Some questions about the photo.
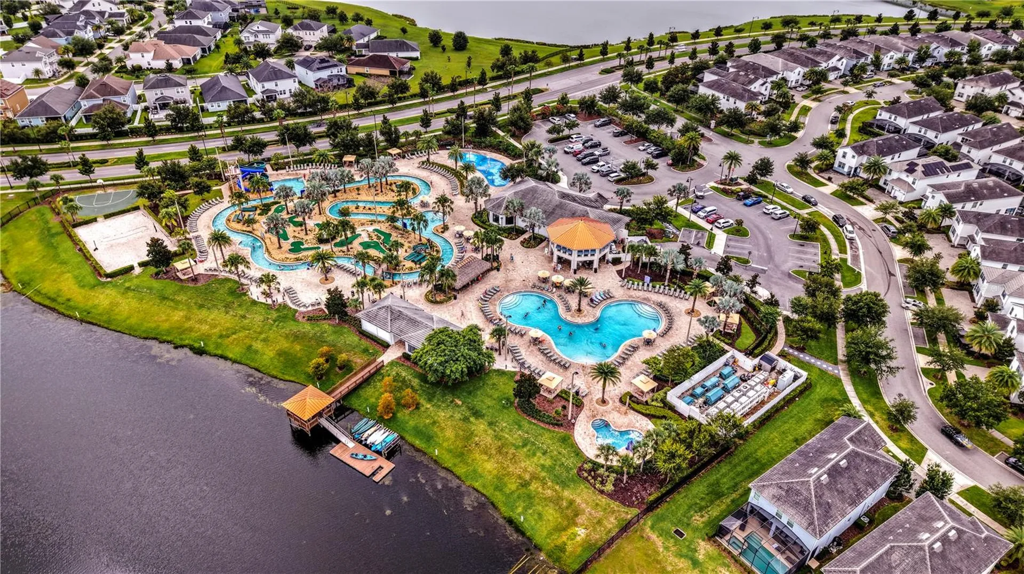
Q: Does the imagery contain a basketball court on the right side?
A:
No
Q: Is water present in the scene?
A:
Yes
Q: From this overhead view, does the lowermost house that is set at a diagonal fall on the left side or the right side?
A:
right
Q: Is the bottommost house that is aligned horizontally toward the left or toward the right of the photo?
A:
right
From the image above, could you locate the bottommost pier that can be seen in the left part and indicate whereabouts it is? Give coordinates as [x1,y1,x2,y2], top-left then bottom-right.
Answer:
[330,443,395,485]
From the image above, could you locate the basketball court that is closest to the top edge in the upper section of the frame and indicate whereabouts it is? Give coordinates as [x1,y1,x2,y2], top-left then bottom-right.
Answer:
[67,190,137,215]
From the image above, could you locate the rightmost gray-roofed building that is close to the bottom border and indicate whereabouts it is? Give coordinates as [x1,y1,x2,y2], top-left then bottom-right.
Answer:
[821,491,1011,574]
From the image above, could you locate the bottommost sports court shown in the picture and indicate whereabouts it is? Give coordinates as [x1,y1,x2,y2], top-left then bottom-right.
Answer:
[73,209,177,268]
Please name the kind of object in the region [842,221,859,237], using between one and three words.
vehicle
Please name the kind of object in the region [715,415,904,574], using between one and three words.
house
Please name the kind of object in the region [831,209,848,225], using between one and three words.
car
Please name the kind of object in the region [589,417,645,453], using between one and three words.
swimming pool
